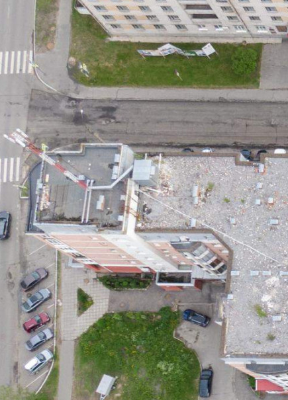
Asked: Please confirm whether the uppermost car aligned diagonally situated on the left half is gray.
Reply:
Yes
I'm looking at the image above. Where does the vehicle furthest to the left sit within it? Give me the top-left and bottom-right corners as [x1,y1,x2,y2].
[0,211,12,241]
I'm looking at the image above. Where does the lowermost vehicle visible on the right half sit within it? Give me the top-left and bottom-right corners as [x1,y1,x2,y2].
[198,370,215,398]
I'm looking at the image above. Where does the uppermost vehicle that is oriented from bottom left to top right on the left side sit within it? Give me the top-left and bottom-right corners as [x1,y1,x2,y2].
[19,267,51,292]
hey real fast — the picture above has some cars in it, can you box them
[19,267,51,292]
[239,150,254,163]
[201,147,213,154]
[20,287,54,313]
[23,327,57,352]
[22,347,57,376]
[255,151,268,163]
[0,211,12,241]
[21,310,53,334]
[198,370,215,398]
[180,308,211,329]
